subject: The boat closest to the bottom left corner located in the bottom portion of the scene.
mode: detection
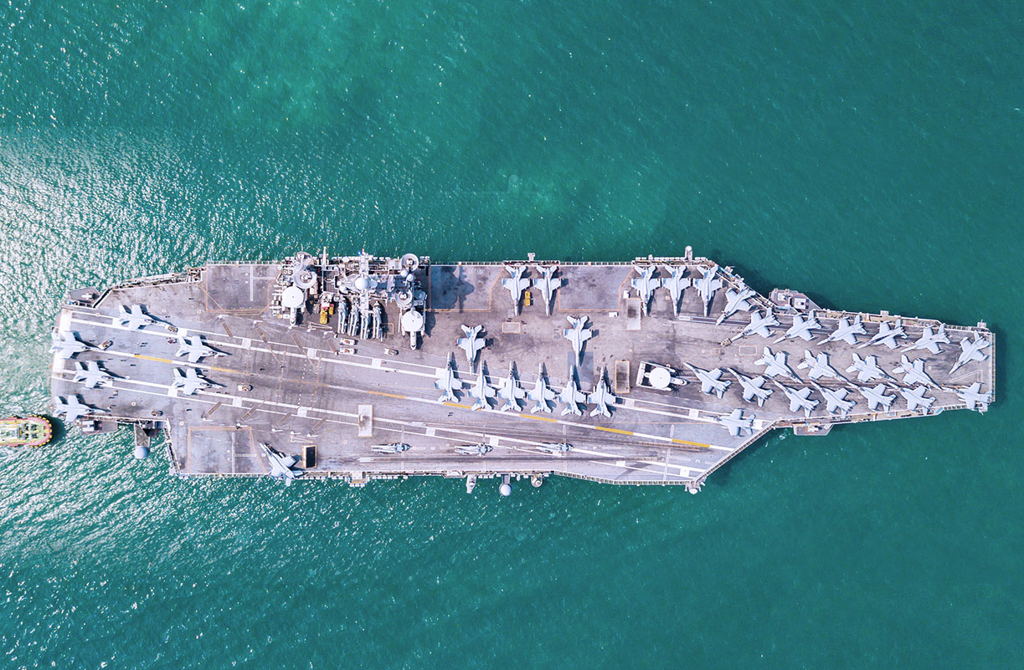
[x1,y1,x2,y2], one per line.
[0,414,51,450]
